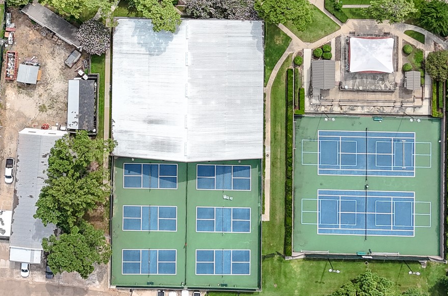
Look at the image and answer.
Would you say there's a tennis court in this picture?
Yes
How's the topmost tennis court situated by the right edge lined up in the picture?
from side to side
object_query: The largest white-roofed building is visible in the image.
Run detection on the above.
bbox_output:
[111,17,264,161]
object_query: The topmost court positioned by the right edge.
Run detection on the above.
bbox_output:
[295,115,442,186]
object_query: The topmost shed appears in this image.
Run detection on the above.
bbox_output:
[21,3,87,46]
